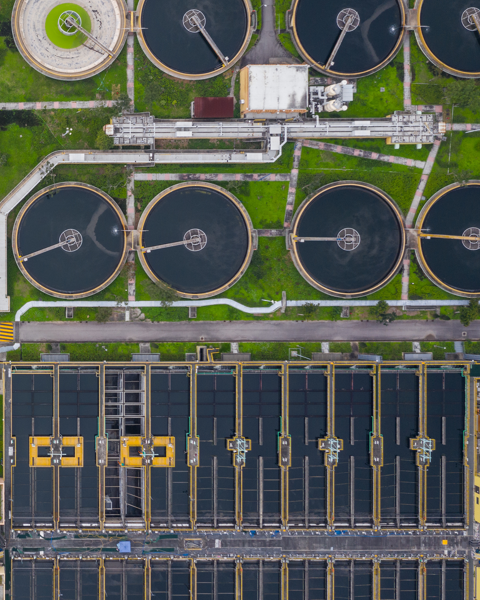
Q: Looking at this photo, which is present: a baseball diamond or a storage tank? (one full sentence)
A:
Of the two, only a storage tank appears.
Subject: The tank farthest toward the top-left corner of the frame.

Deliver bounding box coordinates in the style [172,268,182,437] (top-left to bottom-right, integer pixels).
[10,0,129,82]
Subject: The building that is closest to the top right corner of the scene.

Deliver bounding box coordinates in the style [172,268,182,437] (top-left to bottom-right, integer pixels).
[241,63,308,117]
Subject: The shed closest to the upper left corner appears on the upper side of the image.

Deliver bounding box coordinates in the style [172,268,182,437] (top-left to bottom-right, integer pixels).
[190,97,234,119]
